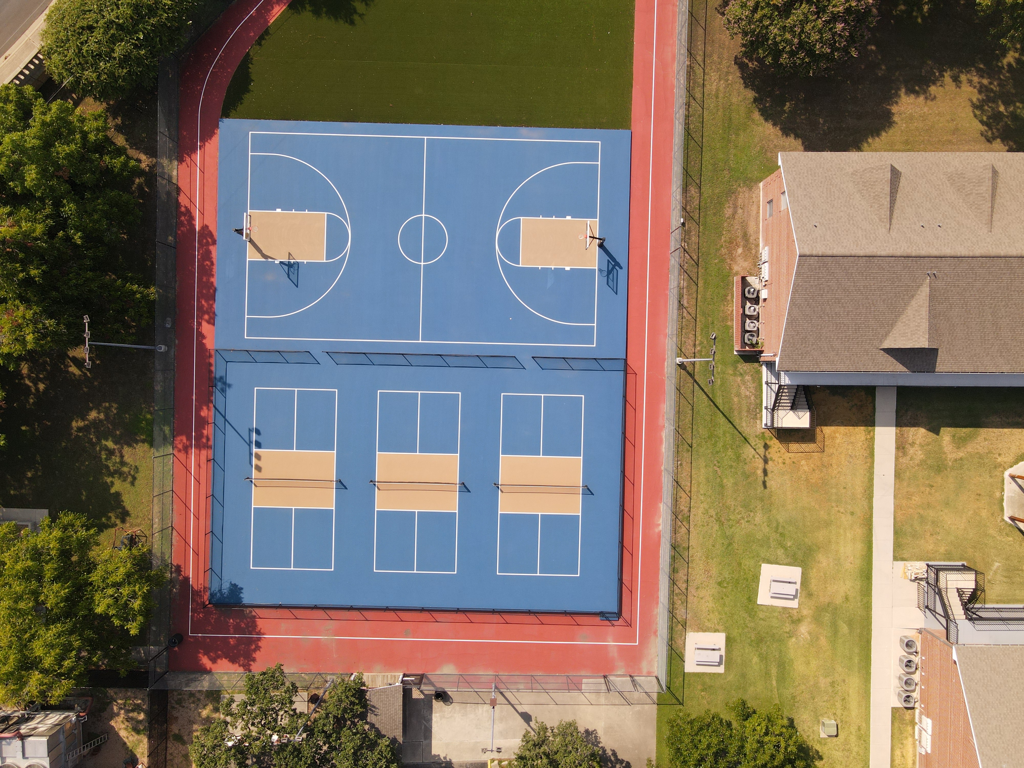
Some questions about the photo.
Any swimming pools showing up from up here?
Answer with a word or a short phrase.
No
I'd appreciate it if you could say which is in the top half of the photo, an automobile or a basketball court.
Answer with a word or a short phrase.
basketball court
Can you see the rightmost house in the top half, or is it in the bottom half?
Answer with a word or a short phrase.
bottom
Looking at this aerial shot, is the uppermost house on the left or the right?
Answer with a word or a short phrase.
right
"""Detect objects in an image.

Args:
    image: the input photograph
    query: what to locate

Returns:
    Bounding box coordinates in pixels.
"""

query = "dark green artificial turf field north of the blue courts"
[220,0,635,129]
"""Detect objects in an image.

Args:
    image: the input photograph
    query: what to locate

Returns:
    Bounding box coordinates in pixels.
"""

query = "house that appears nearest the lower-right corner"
[915,603,1024,768]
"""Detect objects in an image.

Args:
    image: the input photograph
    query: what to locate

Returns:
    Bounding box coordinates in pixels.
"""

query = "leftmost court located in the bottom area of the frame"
[242,380,345,579]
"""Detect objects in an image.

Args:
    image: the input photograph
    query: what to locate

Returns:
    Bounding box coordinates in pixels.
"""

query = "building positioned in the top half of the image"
[758,150,1024,386]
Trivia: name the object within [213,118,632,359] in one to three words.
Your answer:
basketball court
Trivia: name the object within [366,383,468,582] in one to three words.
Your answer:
sports court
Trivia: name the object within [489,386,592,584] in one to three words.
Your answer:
sports court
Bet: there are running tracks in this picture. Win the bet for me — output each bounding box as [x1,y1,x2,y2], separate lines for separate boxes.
[169,0,678,690]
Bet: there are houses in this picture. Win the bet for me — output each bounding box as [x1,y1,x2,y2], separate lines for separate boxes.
[915,603,1024,768]
[758,150,1024,386]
